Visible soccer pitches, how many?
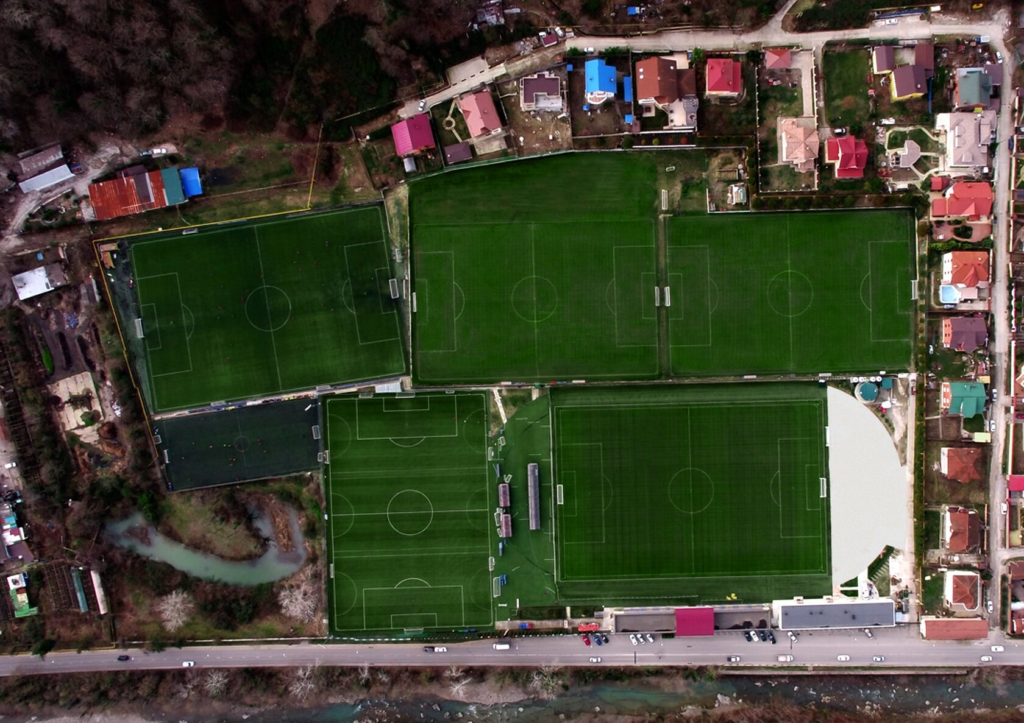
6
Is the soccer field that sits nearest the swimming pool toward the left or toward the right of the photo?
right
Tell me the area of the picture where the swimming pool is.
right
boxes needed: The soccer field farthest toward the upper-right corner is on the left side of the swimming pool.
[667,209,916,379]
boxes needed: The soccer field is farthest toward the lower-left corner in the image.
[156,397,323,491]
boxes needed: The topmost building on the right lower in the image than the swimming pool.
[941,318,987,351]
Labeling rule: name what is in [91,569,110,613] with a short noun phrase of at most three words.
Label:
greenhouse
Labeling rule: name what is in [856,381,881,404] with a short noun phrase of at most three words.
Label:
water tank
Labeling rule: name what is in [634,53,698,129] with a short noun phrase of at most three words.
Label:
house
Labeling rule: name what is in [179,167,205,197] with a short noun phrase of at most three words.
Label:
shed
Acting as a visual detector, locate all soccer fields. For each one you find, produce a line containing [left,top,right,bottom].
[409,150,660,386]
[126,201,407,415]
[551,379,832,607]
[156,397,323,491]
[667,209,916,379]
[322,390,496,637]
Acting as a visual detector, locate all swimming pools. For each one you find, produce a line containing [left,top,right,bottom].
[939,284,960,304]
